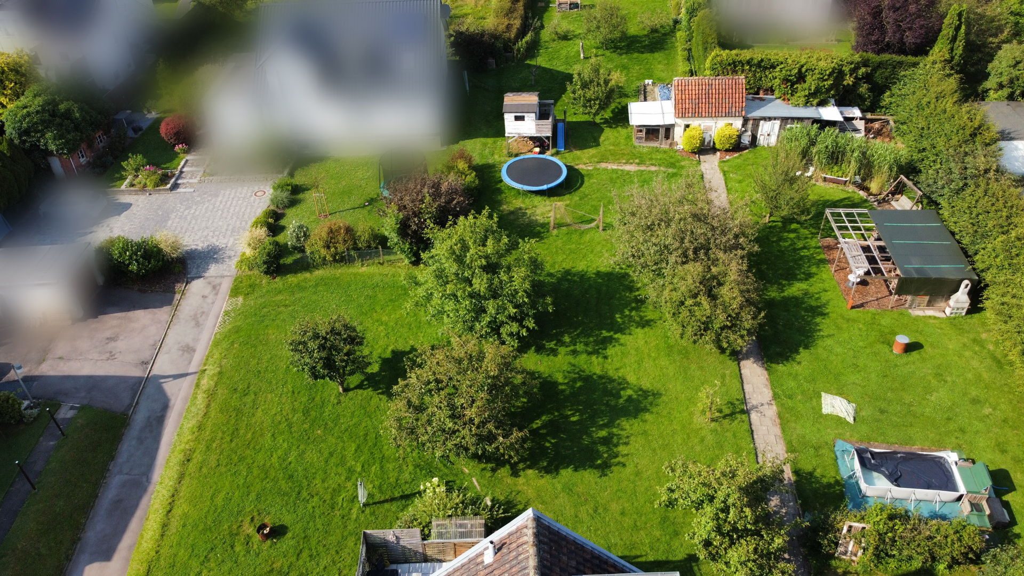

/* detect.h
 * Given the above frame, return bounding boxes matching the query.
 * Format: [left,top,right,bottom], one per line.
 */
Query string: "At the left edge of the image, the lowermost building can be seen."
[0,243,117,326]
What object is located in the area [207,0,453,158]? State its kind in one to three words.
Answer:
house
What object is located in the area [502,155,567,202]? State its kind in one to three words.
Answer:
trampoline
